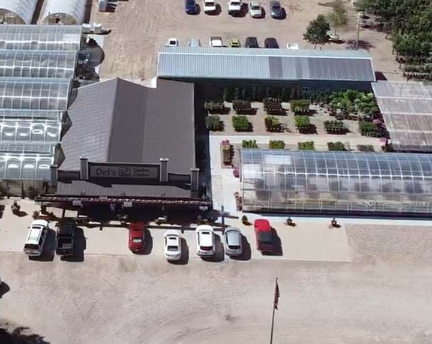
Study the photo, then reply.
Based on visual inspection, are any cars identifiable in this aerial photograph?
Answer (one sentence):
Yes, a car is visible in the scene.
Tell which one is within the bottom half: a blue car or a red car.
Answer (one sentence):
The one visible within the bottom half is a red car.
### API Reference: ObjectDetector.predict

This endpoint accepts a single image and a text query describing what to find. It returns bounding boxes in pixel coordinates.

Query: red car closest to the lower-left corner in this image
[126,218,147,252]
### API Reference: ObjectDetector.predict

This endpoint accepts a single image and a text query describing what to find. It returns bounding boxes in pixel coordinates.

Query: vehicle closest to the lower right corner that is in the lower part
[253,216,274,248]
